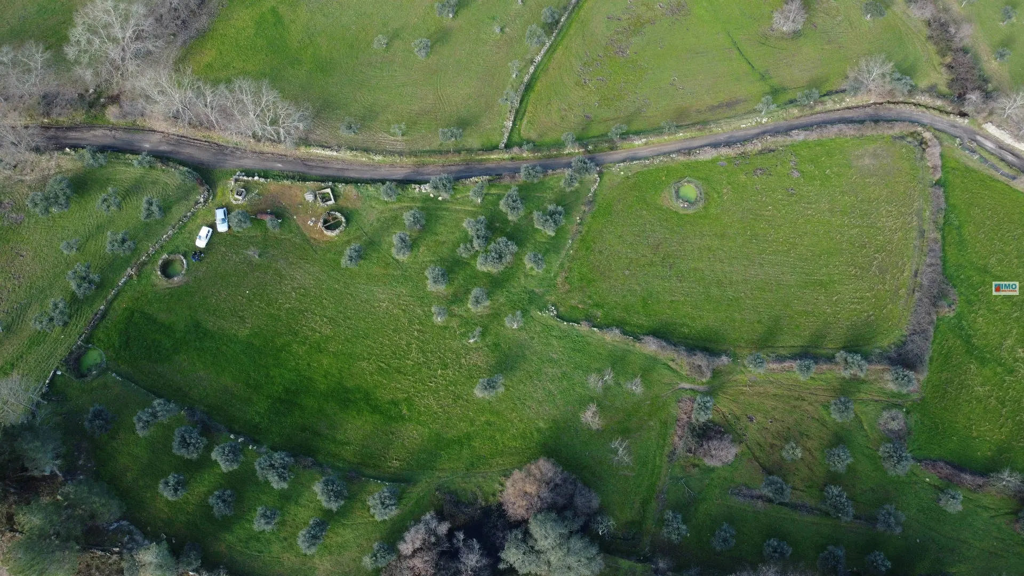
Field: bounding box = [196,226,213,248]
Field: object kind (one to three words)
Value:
car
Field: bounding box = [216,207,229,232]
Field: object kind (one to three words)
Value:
vehicle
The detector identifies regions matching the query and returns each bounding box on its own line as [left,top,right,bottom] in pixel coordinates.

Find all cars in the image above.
[196,226,213,248]
[216,207,229,232]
